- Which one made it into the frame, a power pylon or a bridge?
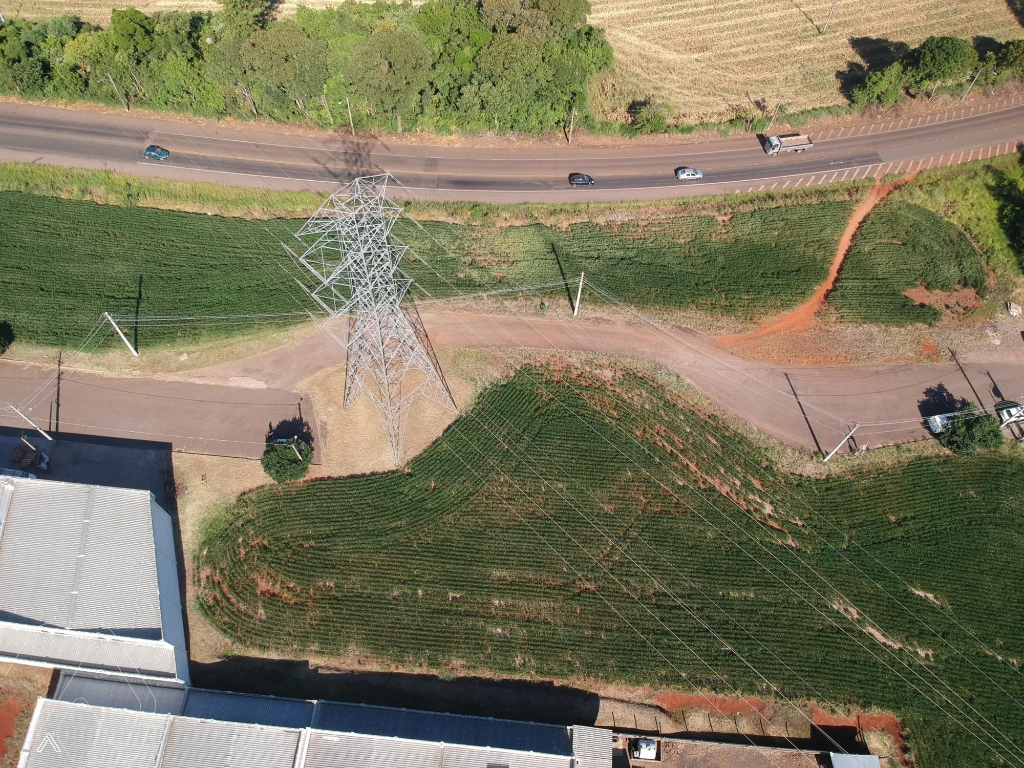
power pylon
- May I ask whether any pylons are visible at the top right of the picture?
No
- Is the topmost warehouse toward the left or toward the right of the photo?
left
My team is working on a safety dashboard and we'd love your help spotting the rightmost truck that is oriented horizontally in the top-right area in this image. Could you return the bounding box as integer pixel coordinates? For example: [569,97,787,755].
[767,134,817,155]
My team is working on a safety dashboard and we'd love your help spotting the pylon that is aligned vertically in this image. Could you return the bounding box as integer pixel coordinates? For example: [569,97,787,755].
[280,163,462,467]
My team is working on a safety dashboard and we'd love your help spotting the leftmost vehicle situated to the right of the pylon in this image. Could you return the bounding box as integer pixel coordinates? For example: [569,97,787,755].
[569,174,596,187]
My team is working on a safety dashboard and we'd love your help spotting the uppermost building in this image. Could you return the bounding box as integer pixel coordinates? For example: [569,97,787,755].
[0,475,185,652]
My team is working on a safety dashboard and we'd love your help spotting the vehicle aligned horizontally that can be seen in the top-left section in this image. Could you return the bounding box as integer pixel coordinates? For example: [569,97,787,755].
[141,146,169,160]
